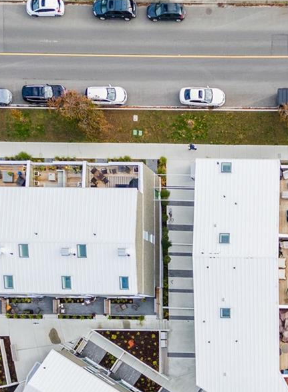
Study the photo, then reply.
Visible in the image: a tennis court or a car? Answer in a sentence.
Of the two, only a car appears.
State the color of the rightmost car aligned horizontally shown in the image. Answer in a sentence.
The rightmost car aligned horizontally is white.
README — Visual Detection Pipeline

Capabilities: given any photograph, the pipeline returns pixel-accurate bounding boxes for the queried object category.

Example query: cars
[21,82,66,105]
[27,0,67,19]
[146,1,186,23]
[93,0,138,21]
[0,89,14,106]
[181,87,225,107]
[85,84,129,106]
